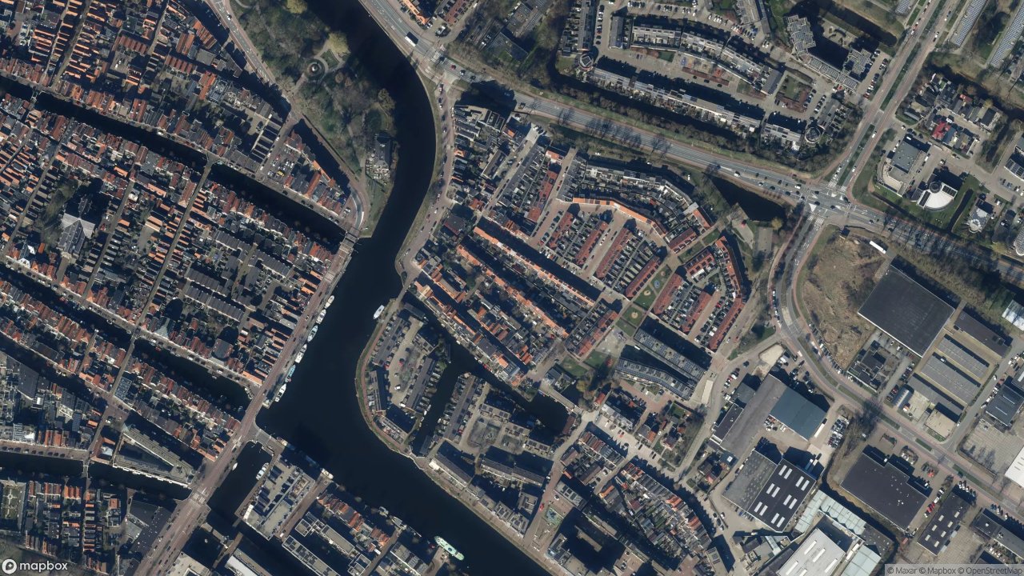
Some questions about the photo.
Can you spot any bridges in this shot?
Yes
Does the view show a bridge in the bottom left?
Yes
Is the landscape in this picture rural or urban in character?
urban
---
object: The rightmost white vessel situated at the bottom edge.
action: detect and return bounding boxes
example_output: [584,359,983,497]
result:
[435,536,468,564]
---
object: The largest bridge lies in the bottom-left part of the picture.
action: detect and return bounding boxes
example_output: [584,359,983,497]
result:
[168,454,219,517]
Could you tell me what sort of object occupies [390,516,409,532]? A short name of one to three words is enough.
vessel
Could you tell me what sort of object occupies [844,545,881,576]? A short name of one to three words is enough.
greenhouse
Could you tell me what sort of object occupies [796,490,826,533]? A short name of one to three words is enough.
greenhouse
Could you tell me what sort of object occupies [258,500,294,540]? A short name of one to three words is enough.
building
